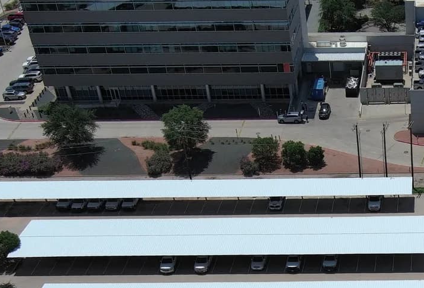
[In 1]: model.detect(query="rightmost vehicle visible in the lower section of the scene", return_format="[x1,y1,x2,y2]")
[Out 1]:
[368,197,382,210]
